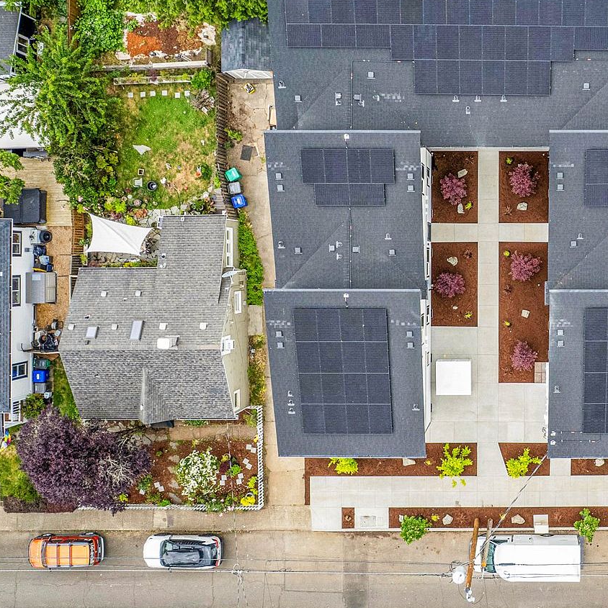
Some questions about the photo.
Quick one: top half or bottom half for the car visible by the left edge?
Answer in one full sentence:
The car visible by the left edge is in the bottom half of the image.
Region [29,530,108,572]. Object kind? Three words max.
car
